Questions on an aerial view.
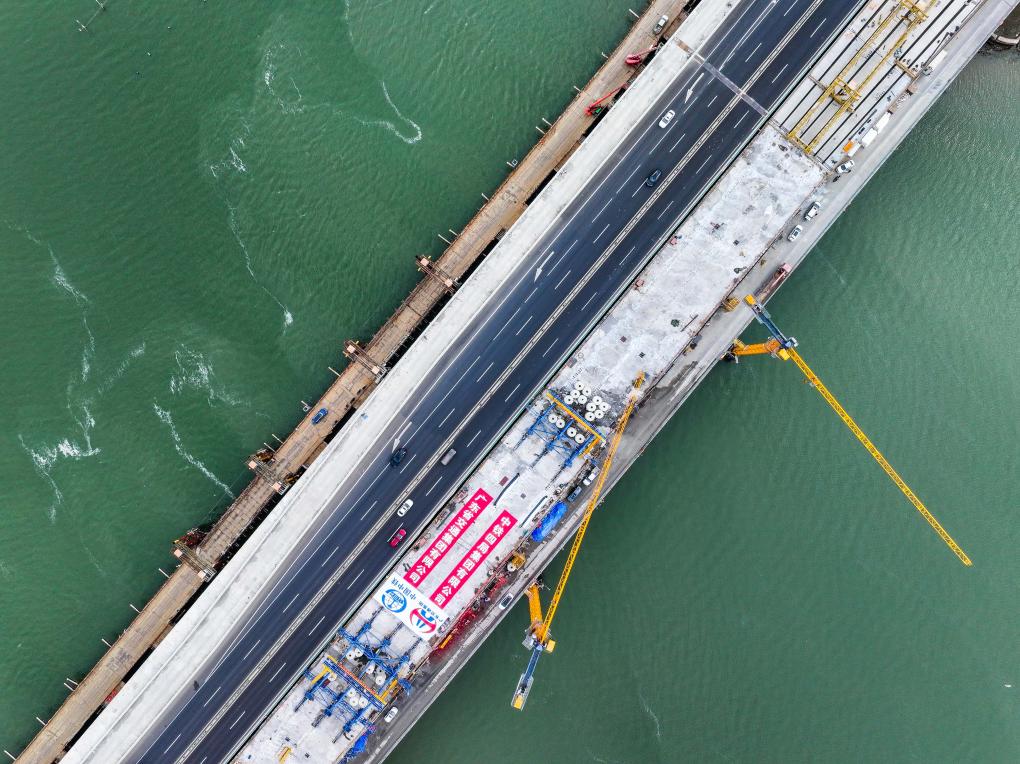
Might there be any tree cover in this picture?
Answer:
No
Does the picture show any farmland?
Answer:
No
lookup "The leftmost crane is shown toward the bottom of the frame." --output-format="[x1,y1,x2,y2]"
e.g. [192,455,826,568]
[512,377,642,707]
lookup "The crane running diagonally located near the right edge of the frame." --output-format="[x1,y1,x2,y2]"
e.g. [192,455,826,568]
[722,293,974,566]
